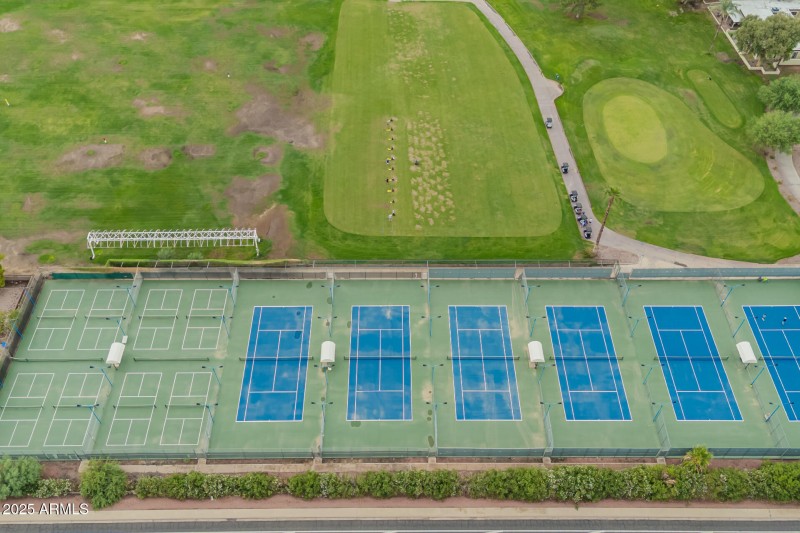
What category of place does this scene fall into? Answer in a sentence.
This looks like a golf course.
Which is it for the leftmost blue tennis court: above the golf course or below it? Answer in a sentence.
Looking at the photo, you'll find the leftmost blue tennis court below the golf course.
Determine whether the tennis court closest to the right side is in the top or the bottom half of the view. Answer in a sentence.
It is in the bottom half that the tennis court closest to the right side appears.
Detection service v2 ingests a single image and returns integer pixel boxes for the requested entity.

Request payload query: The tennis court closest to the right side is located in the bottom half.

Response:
[743,306,800,420]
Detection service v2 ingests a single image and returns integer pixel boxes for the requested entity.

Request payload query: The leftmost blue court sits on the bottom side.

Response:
[236,306,314,420]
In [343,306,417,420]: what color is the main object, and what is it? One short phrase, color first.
blue tennis court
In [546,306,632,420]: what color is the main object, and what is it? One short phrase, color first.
blue tennis court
